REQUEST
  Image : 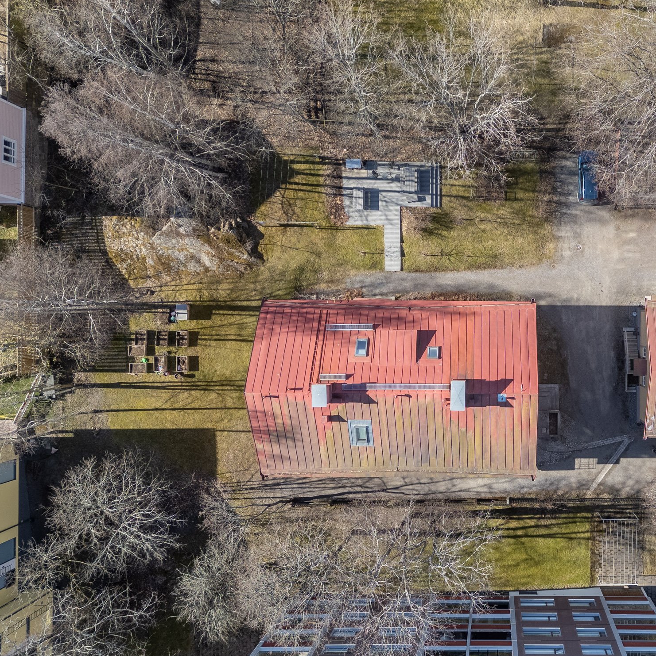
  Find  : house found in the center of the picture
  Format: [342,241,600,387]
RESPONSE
[244,296,540,482]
